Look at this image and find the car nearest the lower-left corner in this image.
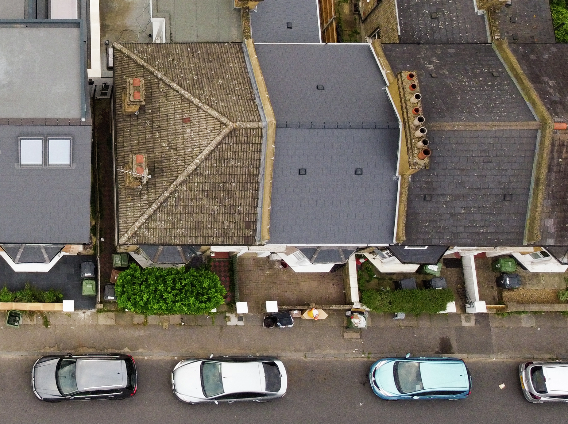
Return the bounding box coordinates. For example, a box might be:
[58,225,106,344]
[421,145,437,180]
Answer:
[31,348,137,405]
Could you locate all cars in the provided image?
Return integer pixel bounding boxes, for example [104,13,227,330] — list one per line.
[31,348,137,405]
[510,357,568,404]
[169,349,287,407]
[364,351,473,406]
